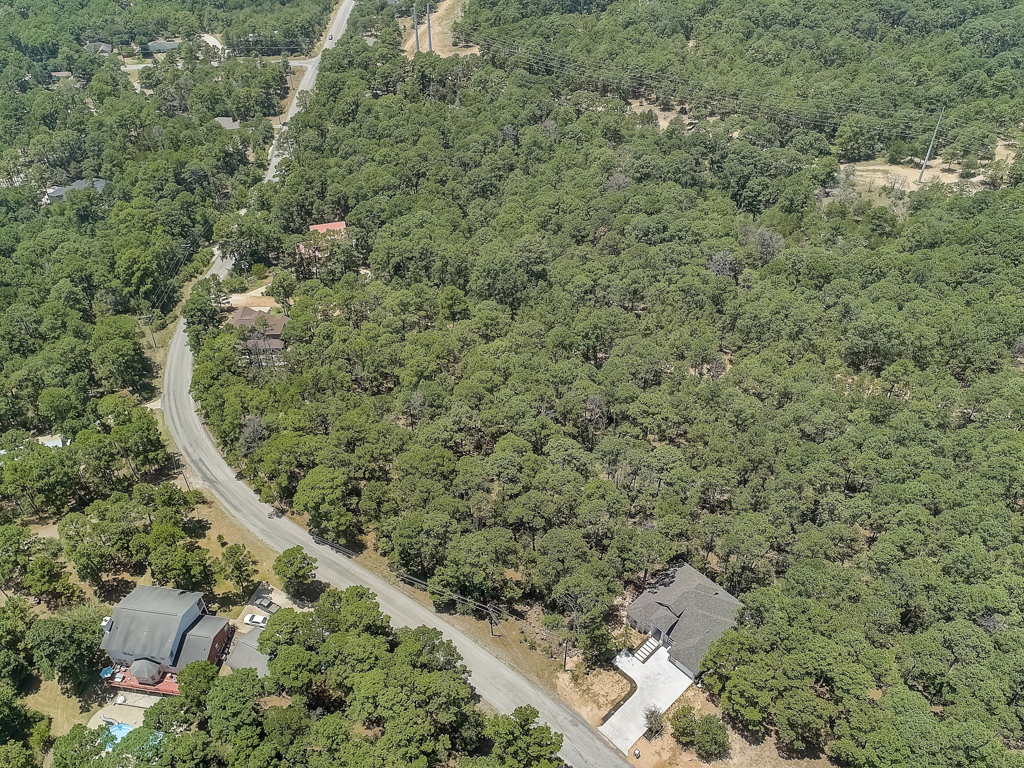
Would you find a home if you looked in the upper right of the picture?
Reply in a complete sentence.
No, looking in the upper right of the picture, there is no home.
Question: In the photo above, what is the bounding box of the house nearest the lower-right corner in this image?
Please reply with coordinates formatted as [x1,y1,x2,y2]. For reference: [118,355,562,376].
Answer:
[625,559,752,680]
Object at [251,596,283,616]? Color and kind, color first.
gray vehicle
